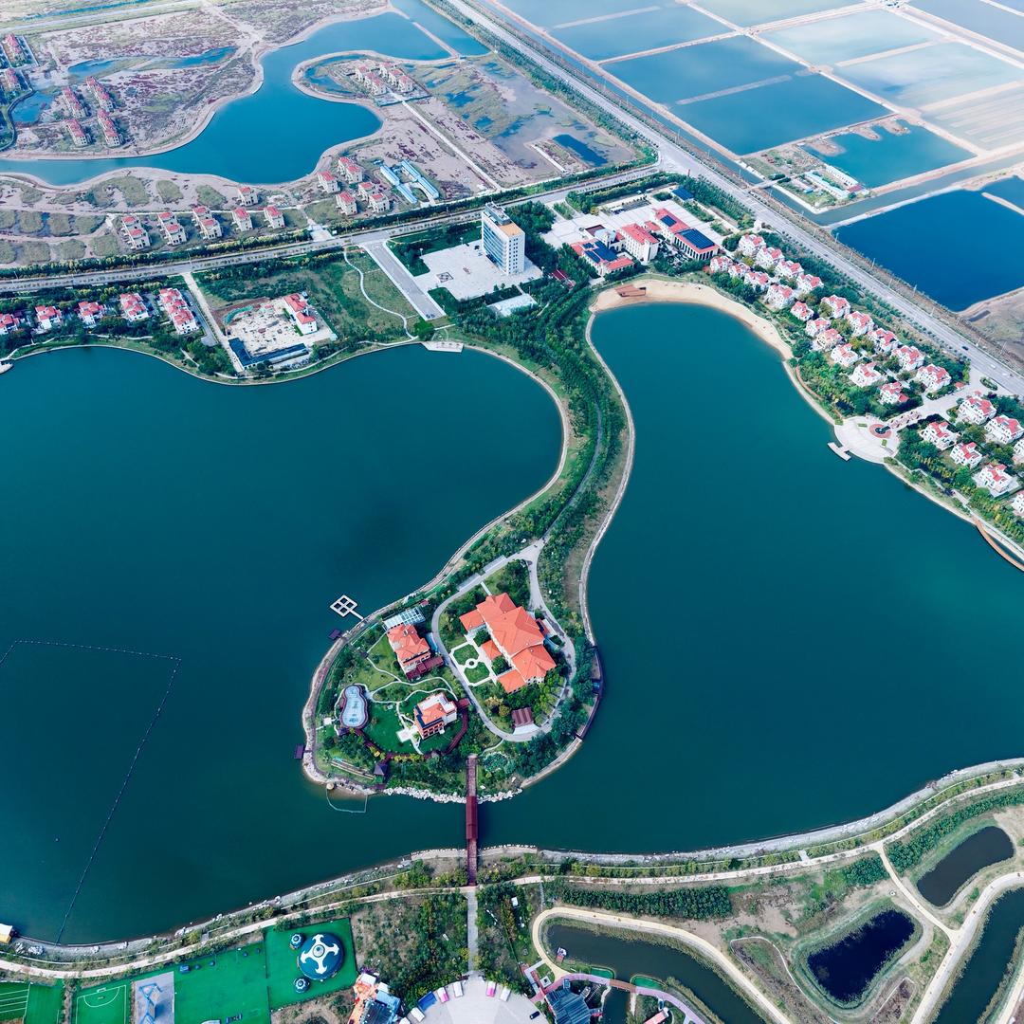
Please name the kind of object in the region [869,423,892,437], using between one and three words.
fountain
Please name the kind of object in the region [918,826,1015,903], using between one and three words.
pond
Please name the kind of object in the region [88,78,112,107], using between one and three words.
house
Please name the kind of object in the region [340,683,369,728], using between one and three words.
swimming pool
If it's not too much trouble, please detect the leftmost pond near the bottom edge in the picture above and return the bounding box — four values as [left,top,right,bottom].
[549,925,767,1024]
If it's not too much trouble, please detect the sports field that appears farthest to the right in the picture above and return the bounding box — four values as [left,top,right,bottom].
[265,917,358,1009]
